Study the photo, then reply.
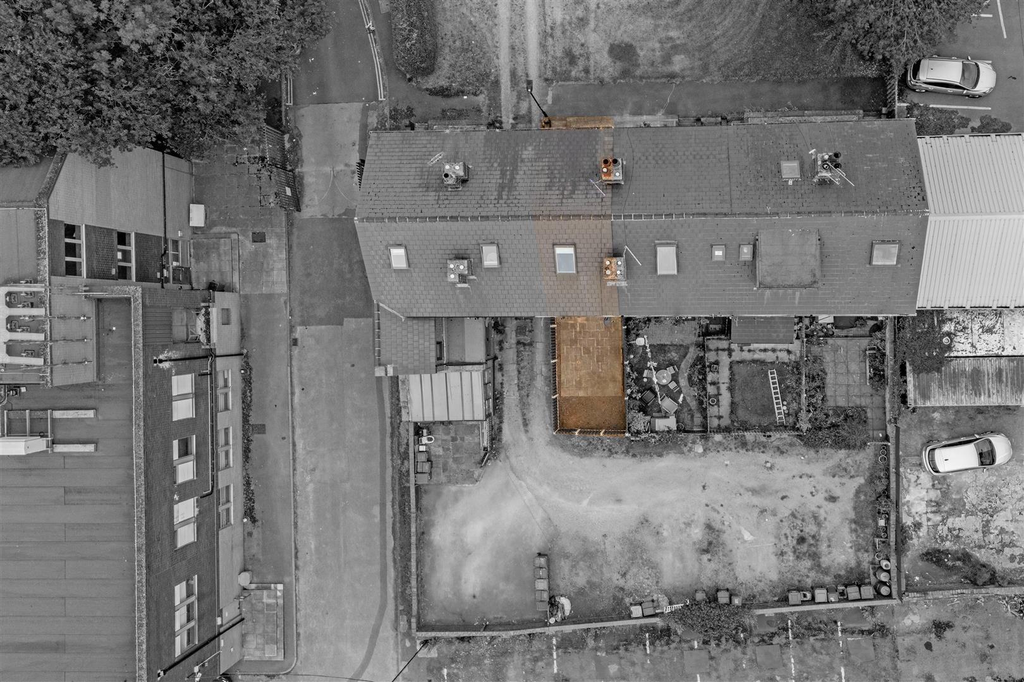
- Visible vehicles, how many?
2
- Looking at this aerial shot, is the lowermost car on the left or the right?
right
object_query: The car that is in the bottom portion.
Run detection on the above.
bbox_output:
[921,428,1009,475]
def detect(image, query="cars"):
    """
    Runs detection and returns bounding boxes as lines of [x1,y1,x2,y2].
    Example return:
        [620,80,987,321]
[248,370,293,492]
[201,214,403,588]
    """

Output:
[921,428,1009,475]
[905,54,993,100]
